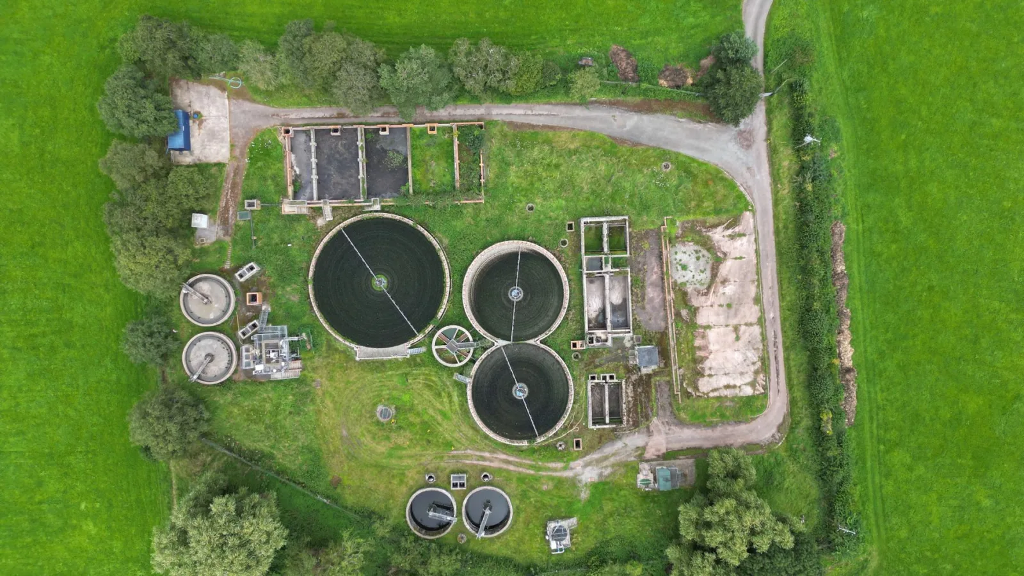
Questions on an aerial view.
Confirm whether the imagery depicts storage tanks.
Yes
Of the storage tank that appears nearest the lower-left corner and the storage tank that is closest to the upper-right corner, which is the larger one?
the storage tank that is closest to the upper-right corner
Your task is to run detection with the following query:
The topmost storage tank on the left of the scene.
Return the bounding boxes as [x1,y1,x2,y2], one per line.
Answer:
[179,273,238,327]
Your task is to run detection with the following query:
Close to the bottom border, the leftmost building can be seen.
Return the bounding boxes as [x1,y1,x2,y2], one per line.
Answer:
[546,518,571,554]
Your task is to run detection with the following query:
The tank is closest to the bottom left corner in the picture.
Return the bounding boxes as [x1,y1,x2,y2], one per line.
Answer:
[183,330,239,385]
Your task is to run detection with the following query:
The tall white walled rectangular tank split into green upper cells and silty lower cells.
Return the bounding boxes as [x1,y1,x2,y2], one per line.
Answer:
[580,216,633,348]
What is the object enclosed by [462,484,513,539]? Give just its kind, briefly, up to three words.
storage tank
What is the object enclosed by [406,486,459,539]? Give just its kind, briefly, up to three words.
storage tank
